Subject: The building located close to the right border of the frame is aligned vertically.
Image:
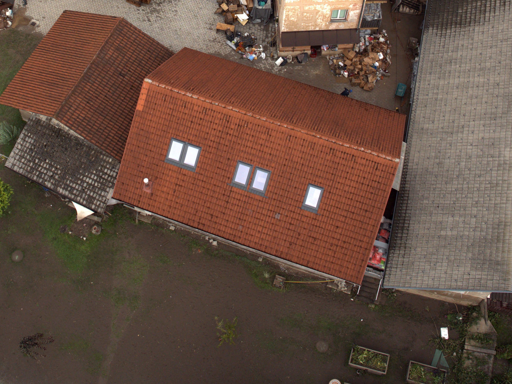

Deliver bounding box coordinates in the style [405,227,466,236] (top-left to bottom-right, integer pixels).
[382,0,512,306]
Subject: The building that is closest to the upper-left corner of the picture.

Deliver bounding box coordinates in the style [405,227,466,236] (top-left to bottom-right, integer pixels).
[0,10,176,214]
